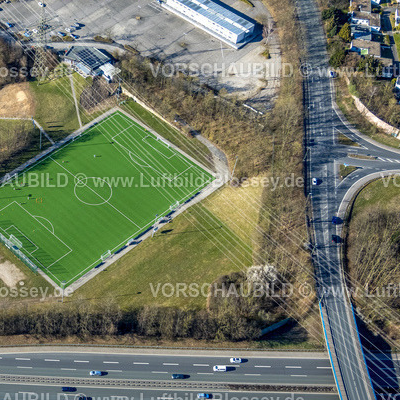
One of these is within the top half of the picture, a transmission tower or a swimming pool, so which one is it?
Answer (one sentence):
What appears within the top half of the picture is a transmission tower.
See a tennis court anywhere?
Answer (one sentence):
No, the frame has no tennis court in it.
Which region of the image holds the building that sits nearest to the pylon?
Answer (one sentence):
The building that sits nearest to the pylon appears toward the top left of the photo.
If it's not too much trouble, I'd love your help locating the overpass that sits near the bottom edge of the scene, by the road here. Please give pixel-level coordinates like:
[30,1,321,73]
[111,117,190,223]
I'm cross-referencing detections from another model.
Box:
[319,295,379,400]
